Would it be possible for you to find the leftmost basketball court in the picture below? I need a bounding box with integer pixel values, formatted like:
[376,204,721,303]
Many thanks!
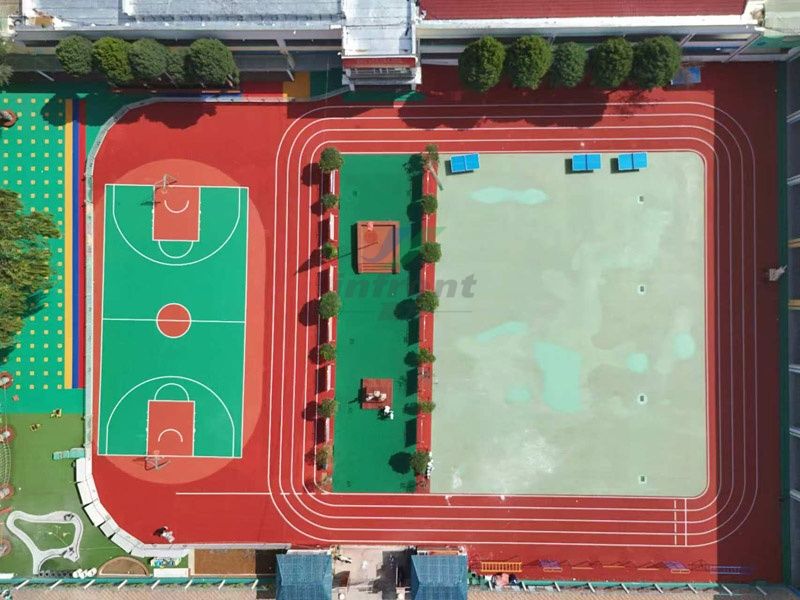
[91,161,264,485]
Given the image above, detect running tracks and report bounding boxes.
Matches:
[176,104,759,548]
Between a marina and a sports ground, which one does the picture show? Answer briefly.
sports ground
